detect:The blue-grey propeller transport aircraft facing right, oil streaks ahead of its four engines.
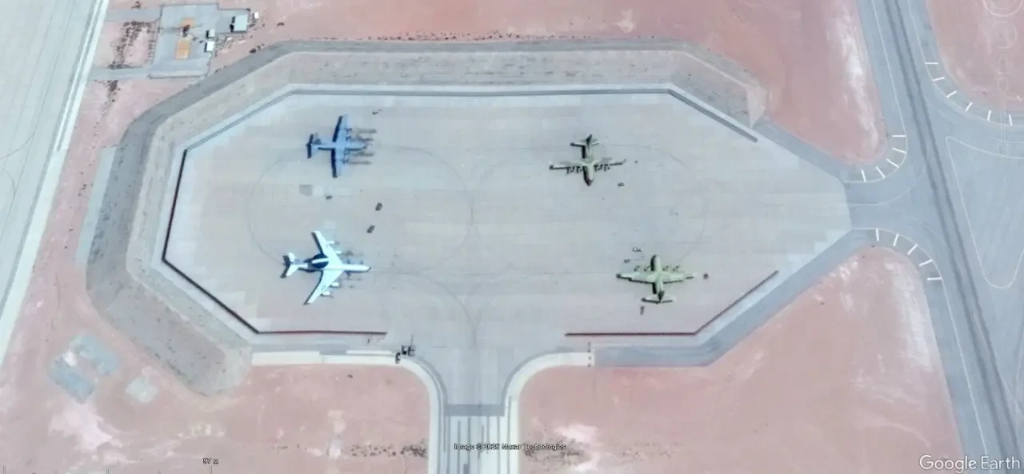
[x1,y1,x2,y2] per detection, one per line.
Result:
[307,116,365,178]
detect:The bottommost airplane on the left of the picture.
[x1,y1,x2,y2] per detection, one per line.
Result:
[286,231,370,303]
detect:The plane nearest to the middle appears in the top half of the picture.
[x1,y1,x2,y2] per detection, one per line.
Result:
[551,134,626,186]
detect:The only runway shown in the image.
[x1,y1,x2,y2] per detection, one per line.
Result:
[0,0,109,372]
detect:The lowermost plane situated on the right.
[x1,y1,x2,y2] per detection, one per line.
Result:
[621,255,696,304]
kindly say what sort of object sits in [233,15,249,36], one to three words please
building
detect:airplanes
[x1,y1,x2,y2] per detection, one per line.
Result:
[286,231,370,303]
[307,116,365,178]
[551,134,626,186]
[621,255,696,304]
